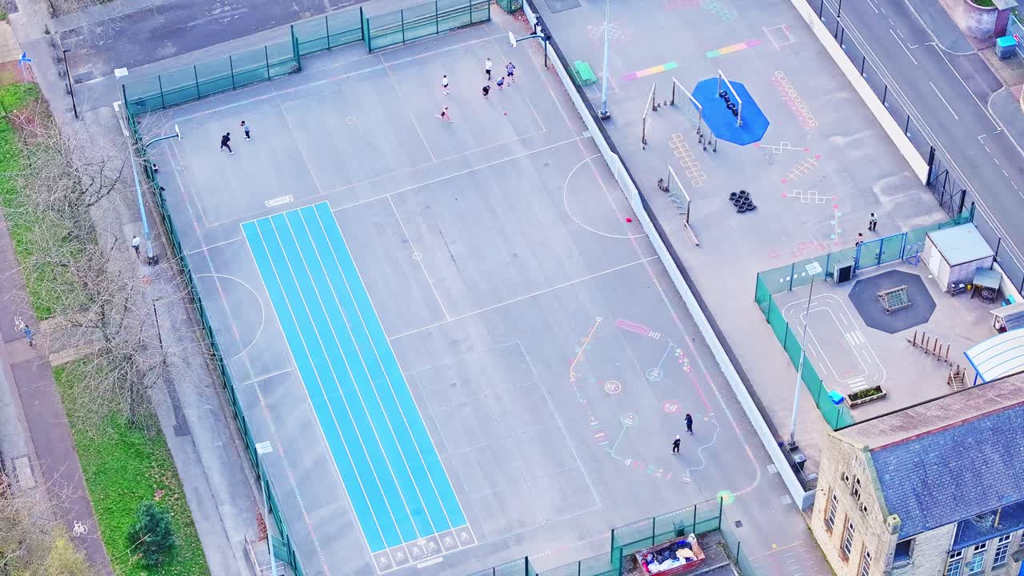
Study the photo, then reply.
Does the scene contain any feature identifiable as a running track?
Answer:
Yes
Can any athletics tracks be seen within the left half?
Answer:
Yes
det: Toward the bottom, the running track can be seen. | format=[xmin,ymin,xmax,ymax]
[243,202,467,552]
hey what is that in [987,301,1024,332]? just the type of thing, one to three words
shed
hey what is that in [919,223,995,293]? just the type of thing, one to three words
shed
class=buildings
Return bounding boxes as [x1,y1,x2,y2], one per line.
[811,367,1024,576]
[987,301,1024,332]
[919,223,995,293]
